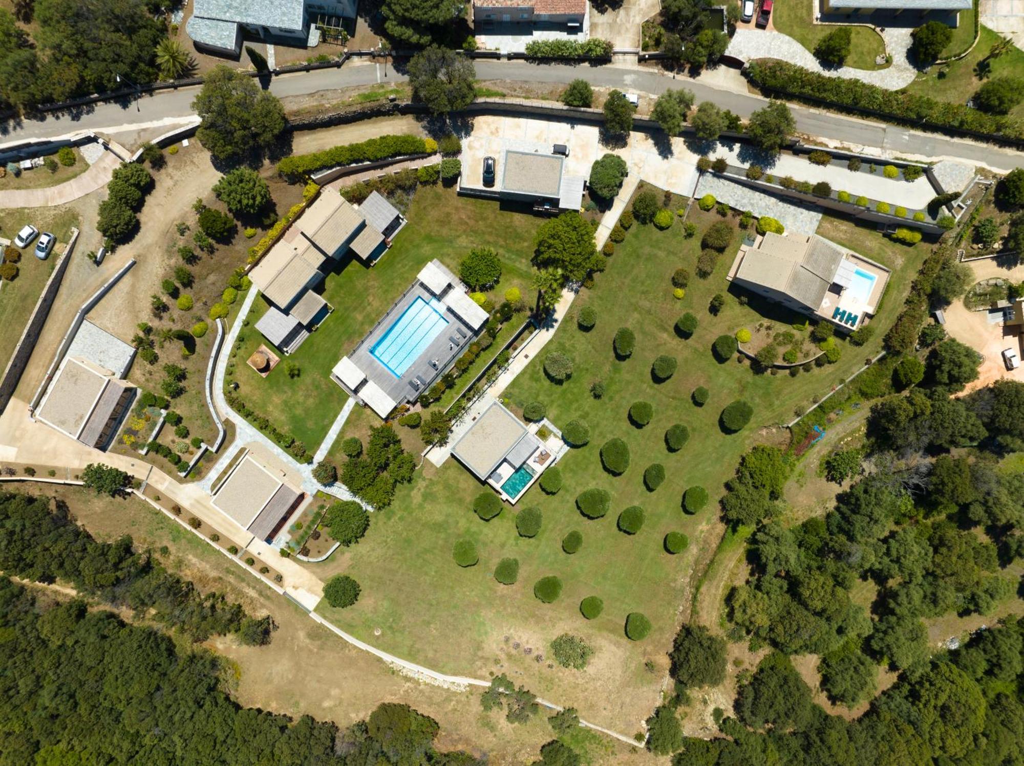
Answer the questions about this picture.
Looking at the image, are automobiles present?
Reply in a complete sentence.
Yes, there is an automobile in the image.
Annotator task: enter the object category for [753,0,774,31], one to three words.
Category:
truck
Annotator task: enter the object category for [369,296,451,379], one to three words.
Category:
swimming pool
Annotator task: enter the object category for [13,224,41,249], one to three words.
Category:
car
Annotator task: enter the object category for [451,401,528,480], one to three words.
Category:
house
